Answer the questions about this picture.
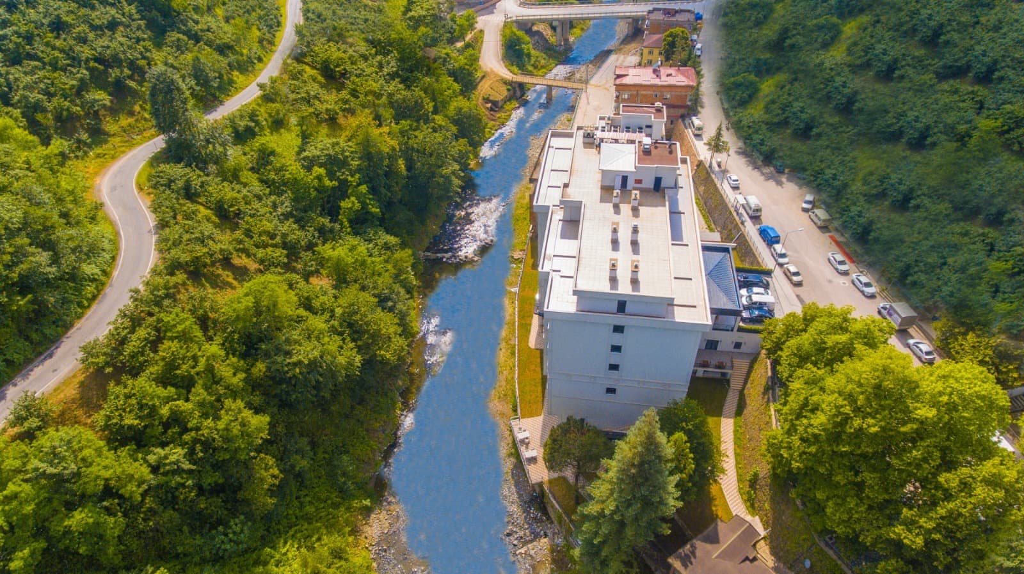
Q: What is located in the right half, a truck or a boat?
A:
truck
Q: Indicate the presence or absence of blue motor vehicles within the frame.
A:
Yes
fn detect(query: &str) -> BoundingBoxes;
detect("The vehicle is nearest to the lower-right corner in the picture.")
[903,338,938,365]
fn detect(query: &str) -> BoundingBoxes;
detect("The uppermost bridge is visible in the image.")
[505,0,704,41]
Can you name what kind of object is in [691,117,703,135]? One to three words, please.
vehicle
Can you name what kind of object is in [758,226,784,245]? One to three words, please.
vehicle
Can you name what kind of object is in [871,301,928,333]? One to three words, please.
truck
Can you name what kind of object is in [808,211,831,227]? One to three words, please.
car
